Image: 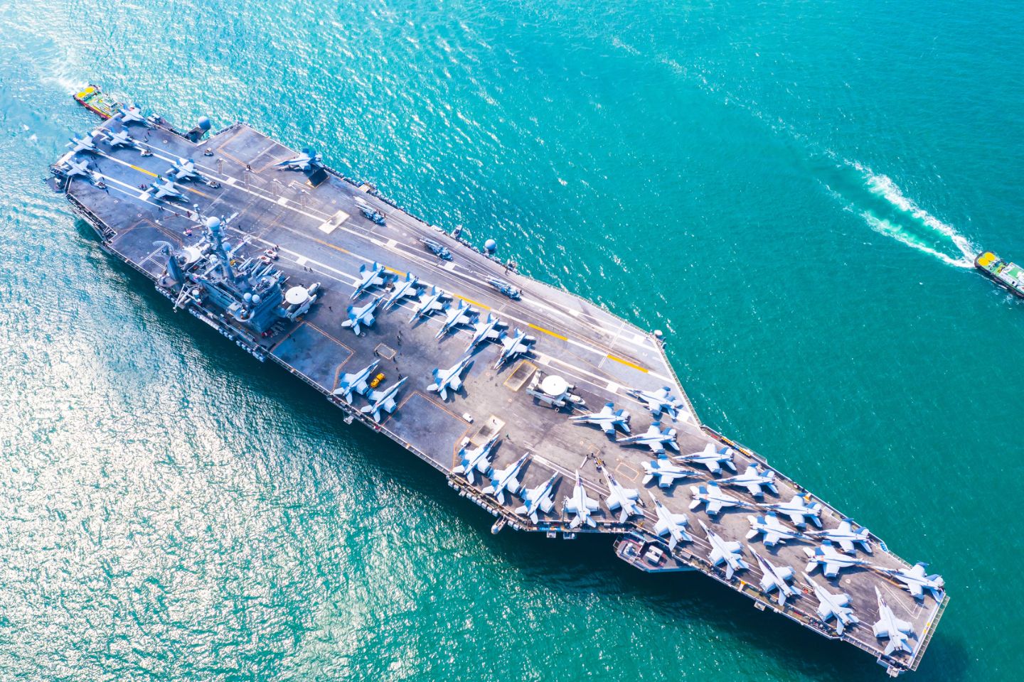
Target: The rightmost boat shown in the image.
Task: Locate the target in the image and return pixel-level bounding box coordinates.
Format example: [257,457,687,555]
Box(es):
[976,251,1024,301]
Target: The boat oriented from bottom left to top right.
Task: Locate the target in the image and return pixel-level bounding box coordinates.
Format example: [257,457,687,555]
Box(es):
[492,518,506,532]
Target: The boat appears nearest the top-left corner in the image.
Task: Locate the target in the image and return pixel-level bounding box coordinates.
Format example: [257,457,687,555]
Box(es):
[77,84,127,120]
